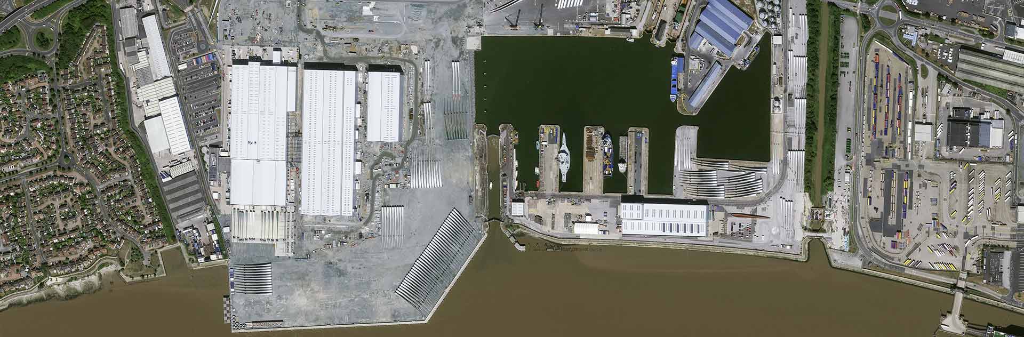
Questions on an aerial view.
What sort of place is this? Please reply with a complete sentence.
It's a port.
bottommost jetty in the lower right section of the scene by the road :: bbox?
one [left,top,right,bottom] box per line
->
[934,271,990,337]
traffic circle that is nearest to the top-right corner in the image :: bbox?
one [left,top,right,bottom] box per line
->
[875,0,902,31]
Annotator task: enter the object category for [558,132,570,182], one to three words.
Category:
ship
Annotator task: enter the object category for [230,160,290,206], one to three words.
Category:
building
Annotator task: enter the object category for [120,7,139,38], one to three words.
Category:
building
